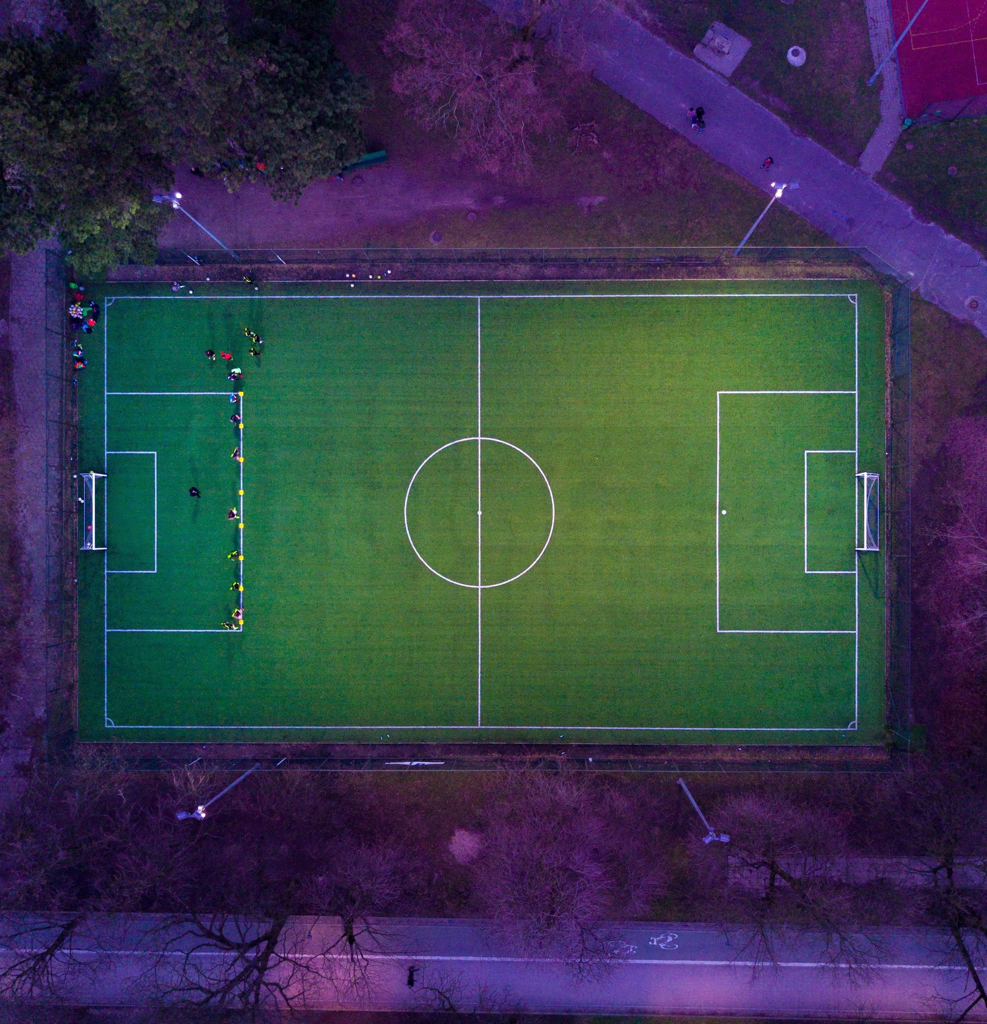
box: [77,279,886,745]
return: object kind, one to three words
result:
sports field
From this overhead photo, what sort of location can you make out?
sports ground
